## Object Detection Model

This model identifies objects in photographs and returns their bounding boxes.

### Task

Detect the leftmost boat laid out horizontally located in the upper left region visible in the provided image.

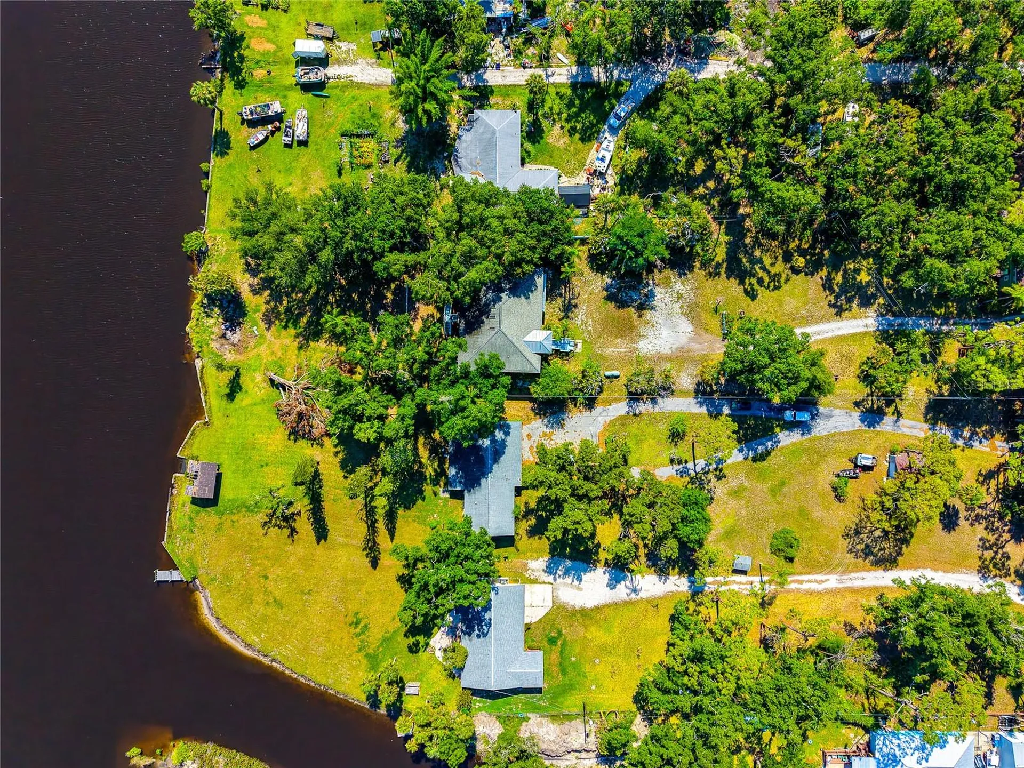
[237,100,281,119]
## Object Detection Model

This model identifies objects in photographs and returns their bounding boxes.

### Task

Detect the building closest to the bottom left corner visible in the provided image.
[185,460,223,498]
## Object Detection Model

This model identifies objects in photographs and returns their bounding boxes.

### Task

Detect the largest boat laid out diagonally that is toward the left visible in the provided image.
[247,130,267,147]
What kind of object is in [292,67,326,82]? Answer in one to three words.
boat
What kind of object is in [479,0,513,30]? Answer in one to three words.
house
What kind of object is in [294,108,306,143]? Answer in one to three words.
boat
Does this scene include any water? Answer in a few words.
Yes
